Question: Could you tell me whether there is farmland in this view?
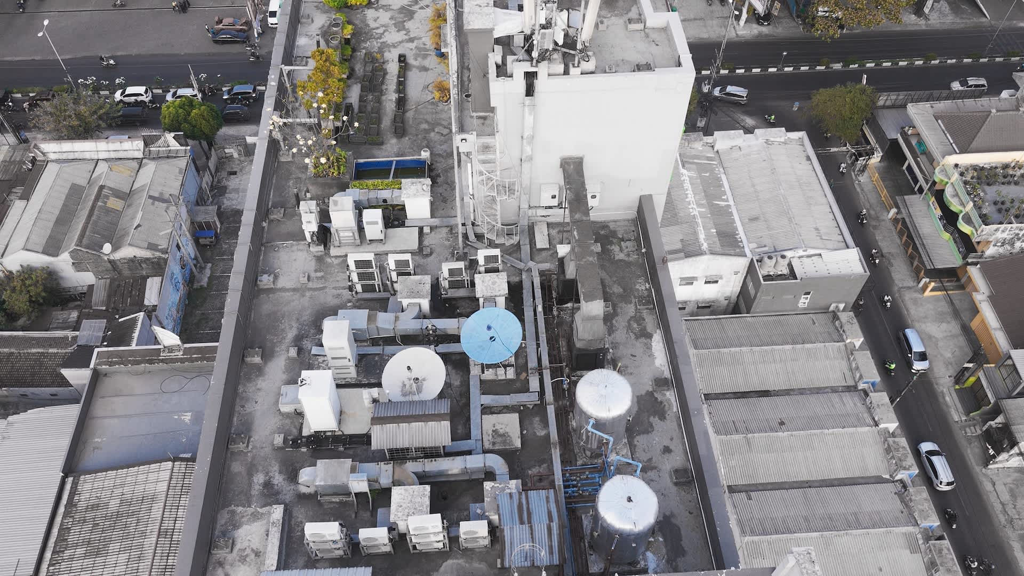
No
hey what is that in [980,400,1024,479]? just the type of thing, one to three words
house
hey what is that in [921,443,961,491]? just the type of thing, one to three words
car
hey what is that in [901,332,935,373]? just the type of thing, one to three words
car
